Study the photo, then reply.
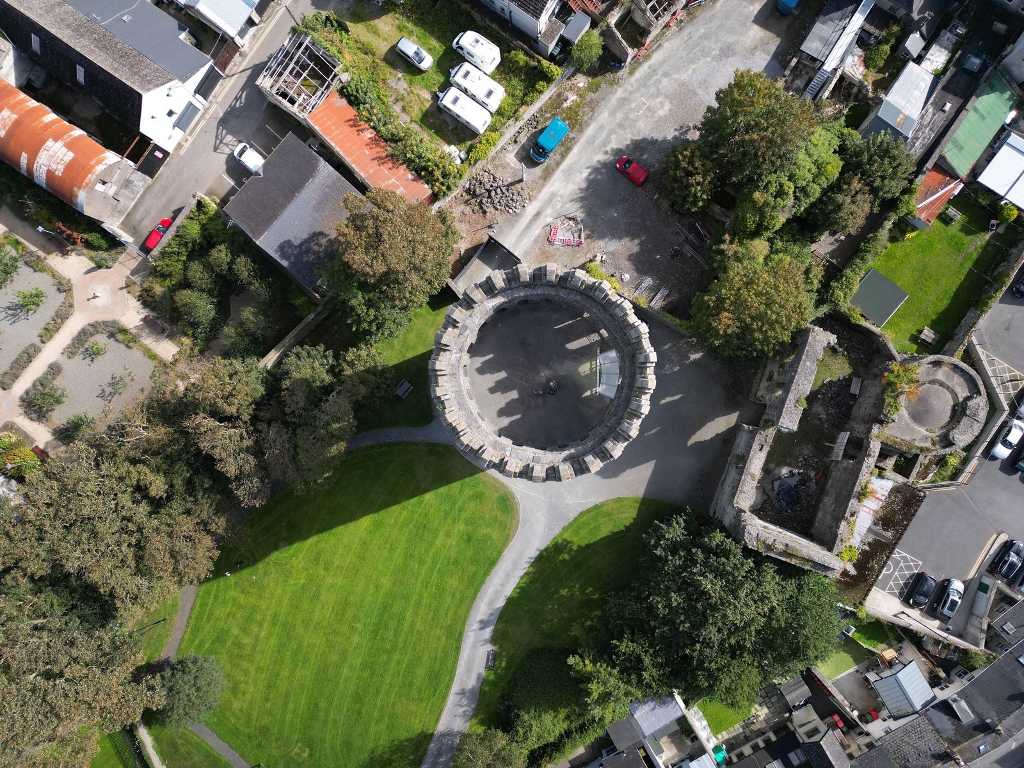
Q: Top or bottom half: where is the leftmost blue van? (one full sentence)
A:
Seen from above, the leftmost blue van lies in the top half of the view.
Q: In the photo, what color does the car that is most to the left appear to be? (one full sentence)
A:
In this view, the car that is most to the left is red.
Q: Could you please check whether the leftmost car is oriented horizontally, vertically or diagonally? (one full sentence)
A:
The leftmost car is laid out diagonally.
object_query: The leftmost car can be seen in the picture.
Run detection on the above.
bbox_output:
[139,215,172,250]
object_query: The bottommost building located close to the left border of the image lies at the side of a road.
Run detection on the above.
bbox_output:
[0,80,152,221]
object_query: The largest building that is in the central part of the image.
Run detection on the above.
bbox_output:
[433,260,654,482]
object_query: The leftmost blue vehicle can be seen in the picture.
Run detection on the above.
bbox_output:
[531,111,569,162]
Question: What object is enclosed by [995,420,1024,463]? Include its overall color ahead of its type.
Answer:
white car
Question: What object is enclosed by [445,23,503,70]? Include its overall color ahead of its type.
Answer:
white camper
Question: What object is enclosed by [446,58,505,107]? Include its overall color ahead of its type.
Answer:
white camper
